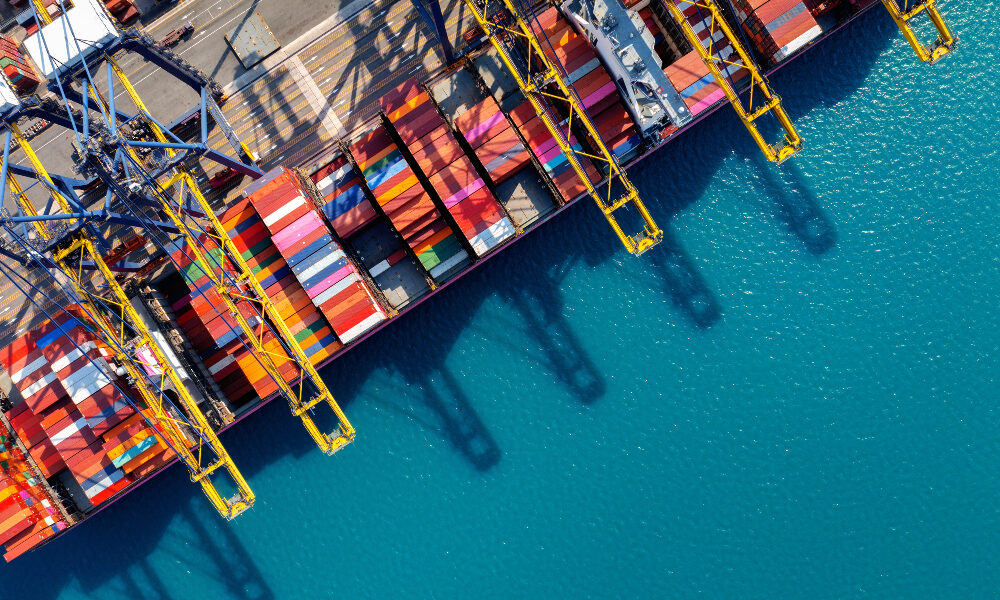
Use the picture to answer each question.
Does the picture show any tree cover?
No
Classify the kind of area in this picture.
port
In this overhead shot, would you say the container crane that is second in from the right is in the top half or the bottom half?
top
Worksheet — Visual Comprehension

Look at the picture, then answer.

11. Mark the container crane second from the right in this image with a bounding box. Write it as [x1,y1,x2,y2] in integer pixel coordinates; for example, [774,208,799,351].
[670,0,808,163]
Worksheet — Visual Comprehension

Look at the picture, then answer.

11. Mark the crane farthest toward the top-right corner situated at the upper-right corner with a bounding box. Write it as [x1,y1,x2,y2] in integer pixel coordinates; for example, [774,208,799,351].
[876,0,953,69]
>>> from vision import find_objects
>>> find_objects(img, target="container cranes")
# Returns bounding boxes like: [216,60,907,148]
[398,0,664,256]
[876,0,953,69]
[0,77,255,523]
[670,0,808,163]
[2,0,354,457]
